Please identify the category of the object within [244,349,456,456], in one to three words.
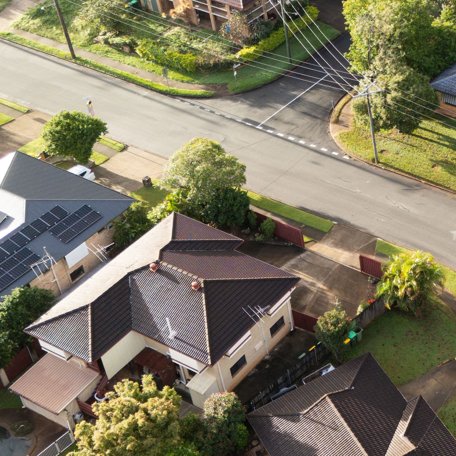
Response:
house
